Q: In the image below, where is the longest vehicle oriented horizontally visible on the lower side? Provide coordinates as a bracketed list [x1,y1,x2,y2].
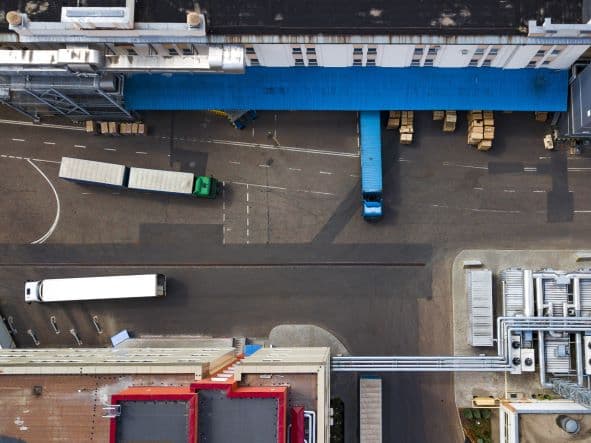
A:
[27,273,170,303]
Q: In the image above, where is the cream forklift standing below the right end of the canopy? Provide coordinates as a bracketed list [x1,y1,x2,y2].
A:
[540,129,556,152]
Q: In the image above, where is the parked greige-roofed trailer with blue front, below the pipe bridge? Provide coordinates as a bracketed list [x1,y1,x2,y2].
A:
[360,372,382,443]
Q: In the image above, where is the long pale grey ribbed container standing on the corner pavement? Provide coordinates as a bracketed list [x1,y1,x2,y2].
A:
[466,269,497,346]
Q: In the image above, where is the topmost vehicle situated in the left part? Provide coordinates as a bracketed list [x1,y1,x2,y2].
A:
[59,157,223,200]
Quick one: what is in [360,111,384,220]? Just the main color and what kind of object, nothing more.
blue truck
